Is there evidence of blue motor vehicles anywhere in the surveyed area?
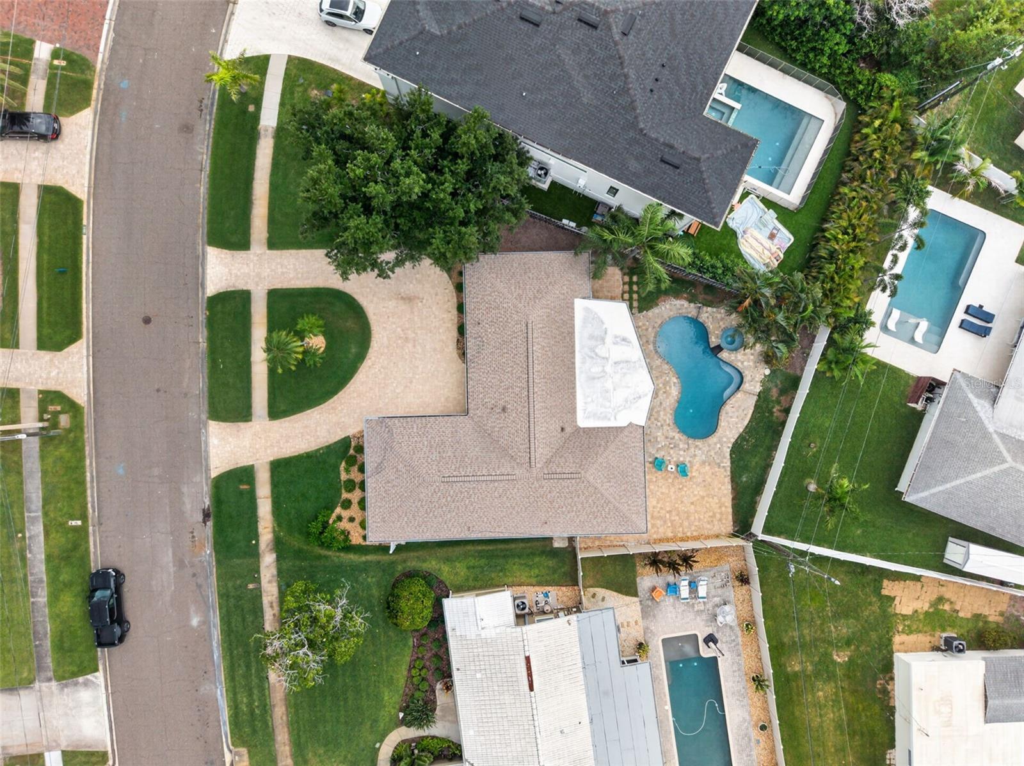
No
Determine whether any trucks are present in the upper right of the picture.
No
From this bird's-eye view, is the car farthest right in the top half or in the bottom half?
top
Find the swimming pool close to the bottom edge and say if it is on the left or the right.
right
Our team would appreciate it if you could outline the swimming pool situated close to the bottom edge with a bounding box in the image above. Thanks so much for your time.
[659,630,736,766]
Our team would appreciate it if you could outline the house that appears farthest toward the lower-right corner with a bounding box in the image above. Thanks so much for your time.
[892,642,1024,766]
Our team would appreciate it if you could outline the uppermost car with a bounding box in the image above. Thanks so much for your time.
[313,0,385,33]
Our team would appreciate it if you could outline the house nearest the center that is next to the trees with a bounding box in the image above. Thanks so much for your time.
[363,249,656,553]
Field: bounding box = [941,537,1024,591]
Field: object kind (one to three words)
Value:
shed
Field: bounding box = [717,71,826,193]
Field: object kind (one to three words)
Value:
swimming pool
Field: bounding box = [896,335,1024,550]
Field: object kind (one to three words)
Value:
house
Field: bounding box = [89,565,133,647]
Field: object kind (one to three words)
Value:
truck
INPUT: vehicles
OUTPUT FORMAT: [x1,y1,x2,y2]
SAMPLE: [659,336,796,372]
[89,565,133,647]
[0,108,64,144]
[313,0,385,33]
